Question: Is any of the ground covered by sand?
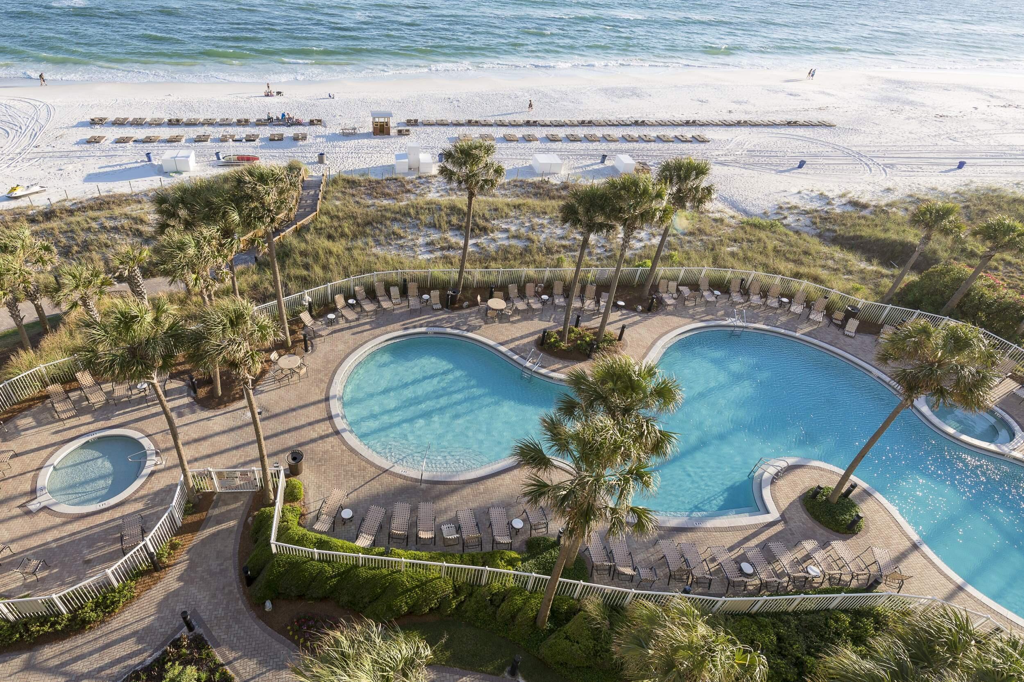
Yes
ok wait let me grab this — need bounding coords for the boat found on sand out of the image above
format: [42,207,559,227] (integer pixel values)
[2,181,47,196]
